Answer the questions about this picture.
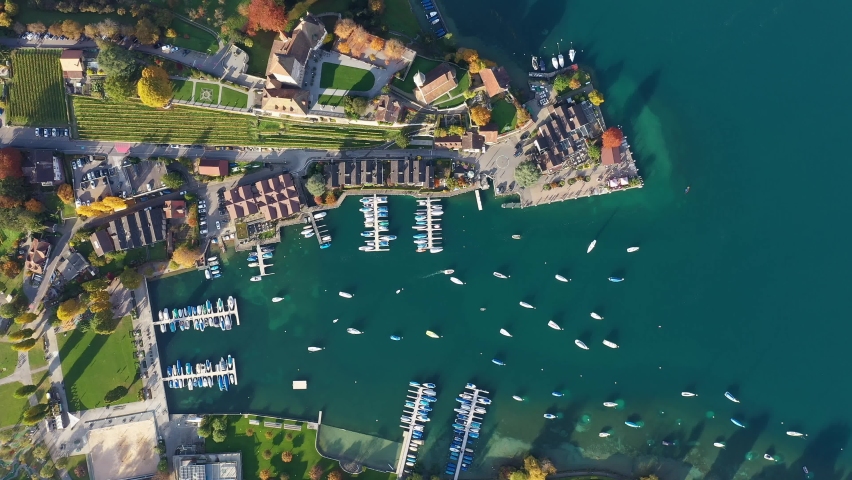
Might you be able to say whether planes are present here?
No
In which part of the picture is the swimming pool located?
bottom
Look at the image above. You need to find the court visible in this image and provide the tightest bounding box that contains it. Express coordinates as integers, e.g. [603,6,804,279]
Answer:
[87,417,159,480]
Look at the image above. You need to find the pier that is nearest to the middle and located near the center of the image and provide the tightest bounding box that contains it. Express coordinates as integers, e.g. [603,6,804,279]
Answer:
[417,197,442,250]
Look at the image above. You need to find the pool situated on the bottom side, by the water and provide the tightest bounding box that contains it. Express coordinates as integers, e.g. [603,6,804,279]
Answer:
[318,424,401,472]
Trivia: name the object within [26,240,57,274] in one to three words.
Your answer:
house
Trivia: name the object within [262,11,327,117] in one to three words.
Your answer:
building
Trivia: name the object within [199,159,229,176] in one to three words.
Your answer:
shed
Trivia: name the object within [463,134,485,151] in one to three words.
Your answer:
house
